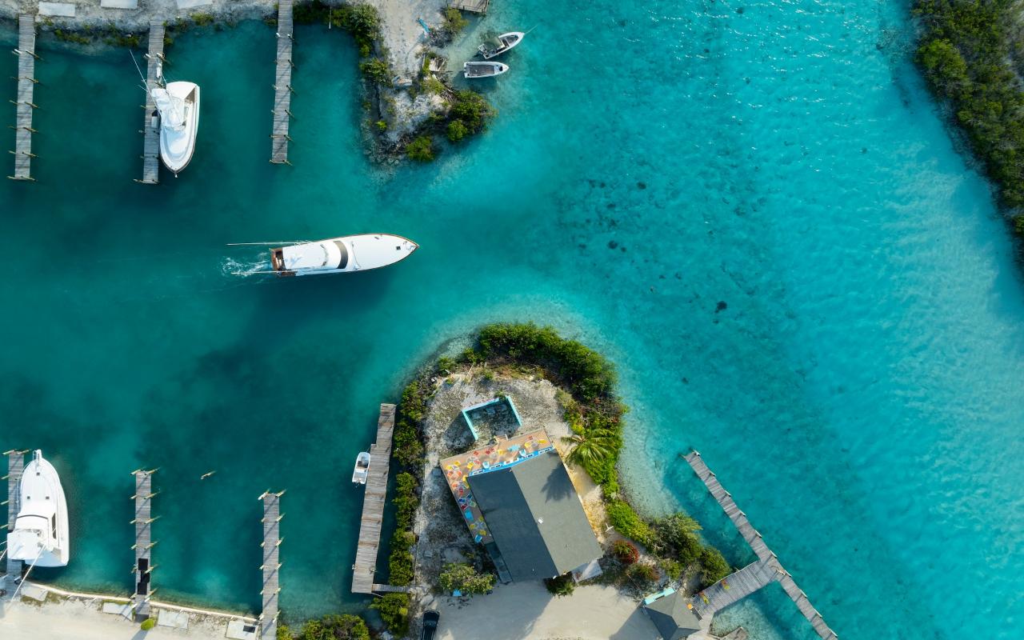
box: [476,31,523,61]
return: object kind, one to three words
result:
boat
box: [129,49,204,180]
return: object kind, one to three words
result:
boat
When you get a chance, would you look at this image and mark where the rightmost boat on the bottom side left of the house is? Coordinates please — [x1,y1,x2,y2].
[352,450,370,487]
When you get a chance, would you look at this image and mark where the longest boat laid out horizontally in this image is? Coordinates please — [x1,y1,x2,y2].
[233,233,418,280]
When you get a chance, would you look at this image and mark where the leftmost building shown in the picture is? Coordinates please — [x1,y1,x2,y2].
[440,428,604,582]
